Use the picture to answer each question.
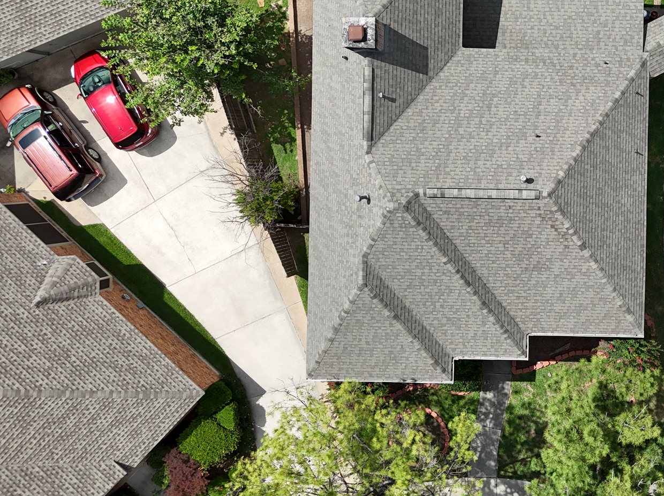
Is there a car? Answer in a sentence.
Yes, you can see a car in this photo.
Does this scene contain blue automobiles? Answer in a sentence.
No, I find no blue automobile anywhere in the image.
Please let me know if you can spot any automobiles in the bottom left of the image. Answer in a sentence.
No, I can find no automobile in the bottom left of the image.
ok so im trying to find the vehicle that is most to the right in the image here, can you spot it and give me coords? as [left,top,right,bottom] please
[71,47,159,159]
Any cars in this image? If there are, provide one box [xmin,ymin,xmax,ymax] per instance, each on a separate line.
[0,79,100,201]
[71,47,159,159]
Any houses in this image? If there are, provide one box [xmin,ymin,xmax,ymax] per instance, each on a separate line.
[304,0,652,384]
[0,0,163,71]
[0,191,216,496]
